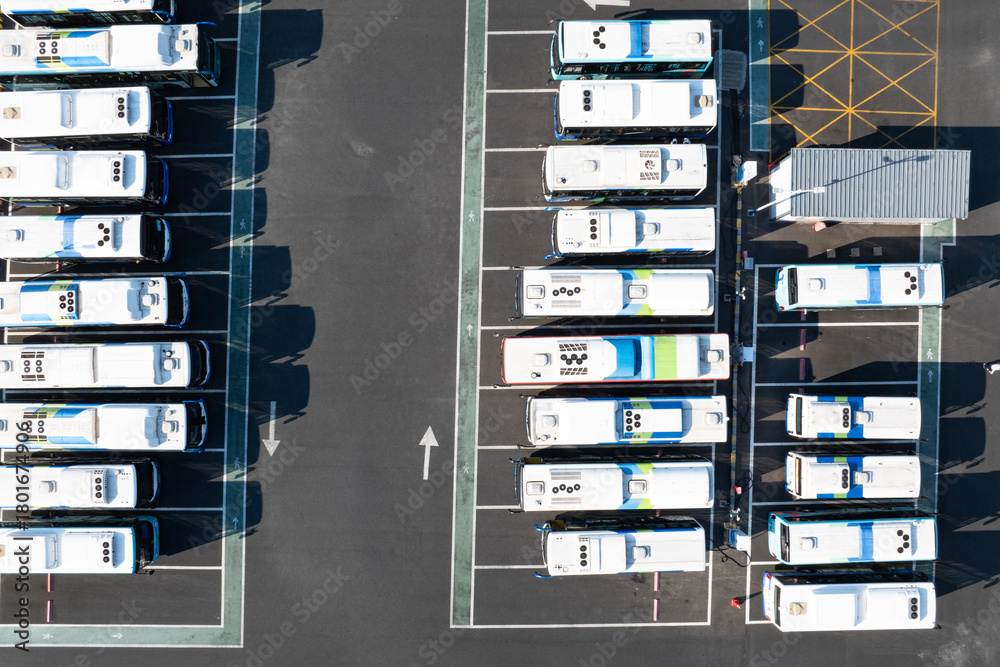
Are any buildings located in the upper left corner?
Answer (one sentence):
No, I see no building in the upper left corner.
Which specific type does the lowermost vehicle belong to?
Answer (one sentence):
From above, the lowermost vehicle can be identified as a bus.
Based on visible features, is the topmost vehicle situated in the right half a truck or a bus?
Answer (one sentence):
It looks like the topmost vehicle situated in the right half is a bus.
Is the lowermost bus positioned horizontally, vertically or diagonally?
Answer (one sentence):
The lowermost bus is laid out horizontally.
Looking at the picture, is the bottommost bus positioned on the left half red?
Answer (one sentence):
No, the bottommost bus positioned on the left half is actually white.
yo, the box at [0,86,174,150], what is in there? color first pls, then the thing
white bus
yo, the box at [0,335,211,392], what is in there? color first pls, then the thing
white bus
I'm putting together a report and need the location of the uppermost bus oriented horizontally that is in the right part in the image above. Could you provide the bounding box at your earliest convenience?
[548,20,712,79]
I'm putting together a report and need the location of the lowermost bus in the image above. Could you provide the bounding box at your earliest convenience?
[765,565,938,632]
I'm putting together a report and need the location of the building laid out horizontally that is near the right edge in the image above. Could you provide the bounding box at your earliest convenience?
[770,146,974,226]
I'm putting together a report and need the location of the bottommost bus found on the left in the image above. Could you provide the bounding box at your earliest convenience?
[0,513,162,574]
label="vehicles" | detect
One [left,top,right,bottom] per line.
[548,20,712,79]
[0,86,174,150]
[765,565,938,632]
[0,398,207,451]
[0,273,189,329]
[540,144,707,200]
[494,333,730,389]
[532,515,706,577]
[550,79,717,141]
[778,261,942,311]
[0,22,219,91]
[0,211,176,264]
[784,447,921,501]
[514,266,714,321]
[0,335,211,392]
[514,454,715,513]
[771,507,938,564]
[2,0,181,28]
[0,456,165,510]
[521,390,728,447]
[784,390,921,442]
[542,207,716,259]
[0,148,172,207]
[0,513,162,574]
